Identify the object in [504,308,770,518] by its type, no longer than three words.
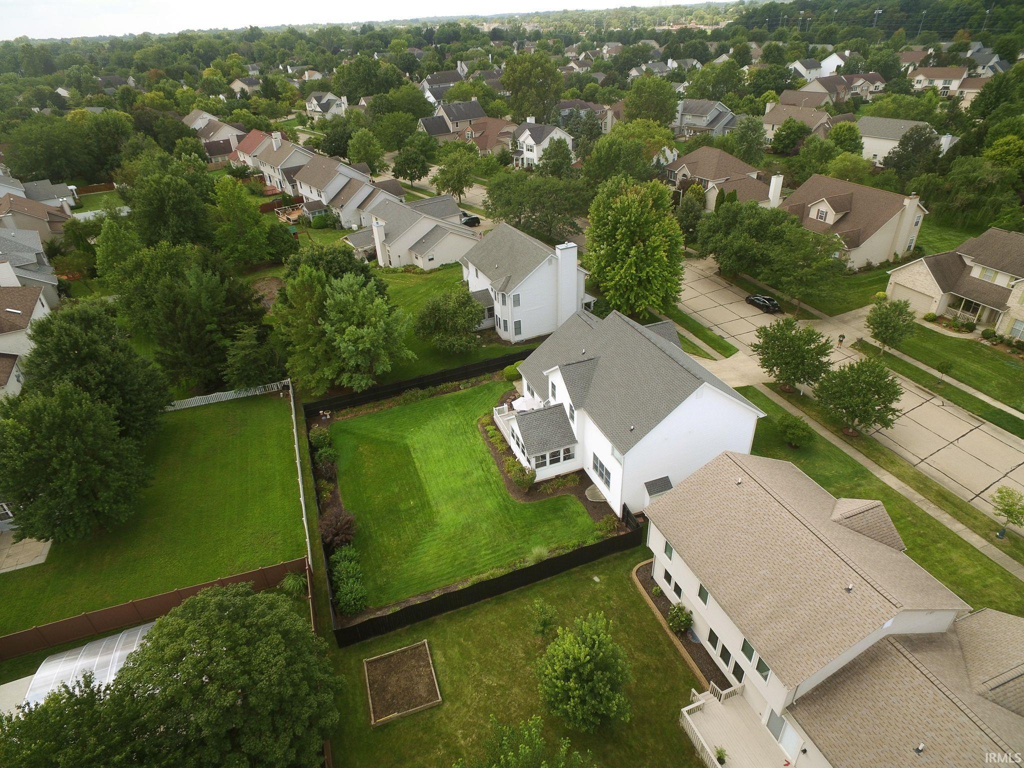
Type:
house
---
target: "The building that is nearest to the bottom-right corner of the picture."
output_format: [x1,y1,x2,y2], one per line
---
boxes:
[640,452,1024,768]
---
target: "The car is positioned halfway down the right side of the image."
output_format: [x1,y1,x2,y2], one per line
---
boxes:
[743,294,785,315]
